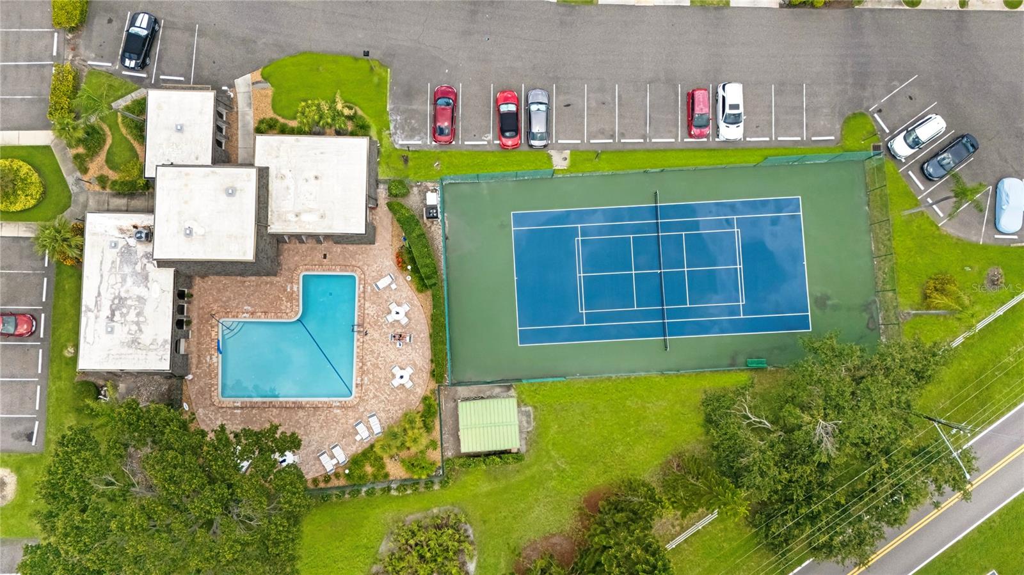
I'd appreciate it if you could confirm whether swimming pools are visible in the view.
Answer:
Yes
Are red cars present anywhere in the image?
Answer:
Yes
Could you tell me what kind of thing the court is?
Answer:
tennis court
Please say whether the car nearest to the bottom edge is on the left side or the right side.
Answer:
left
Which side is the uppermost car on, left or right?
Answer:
left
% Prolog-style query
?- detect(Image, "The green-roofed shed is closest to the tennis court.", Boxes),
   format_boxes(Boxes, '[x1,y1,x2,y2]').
[458,398,520,453]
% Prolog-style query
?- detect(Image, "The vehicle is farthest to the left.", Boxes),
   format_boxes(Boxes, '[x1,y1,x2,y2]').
[0,311,33,339]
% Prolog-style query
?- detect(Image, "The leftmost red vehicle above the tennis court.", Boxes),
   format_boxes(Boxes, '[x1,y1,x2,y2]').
[431,84,458,142]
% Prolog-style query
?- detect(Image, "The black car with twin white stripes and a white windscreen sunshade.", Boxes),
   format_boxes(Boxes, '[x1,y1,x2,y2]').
[115,9,153,68]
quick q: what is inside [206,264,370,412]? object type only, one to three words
swimming pool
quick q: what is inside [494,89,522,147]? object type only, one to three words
car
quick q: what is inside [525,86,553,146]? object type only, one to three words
car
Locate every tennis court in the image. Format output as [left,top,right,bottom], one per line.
[442,160,882,384]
